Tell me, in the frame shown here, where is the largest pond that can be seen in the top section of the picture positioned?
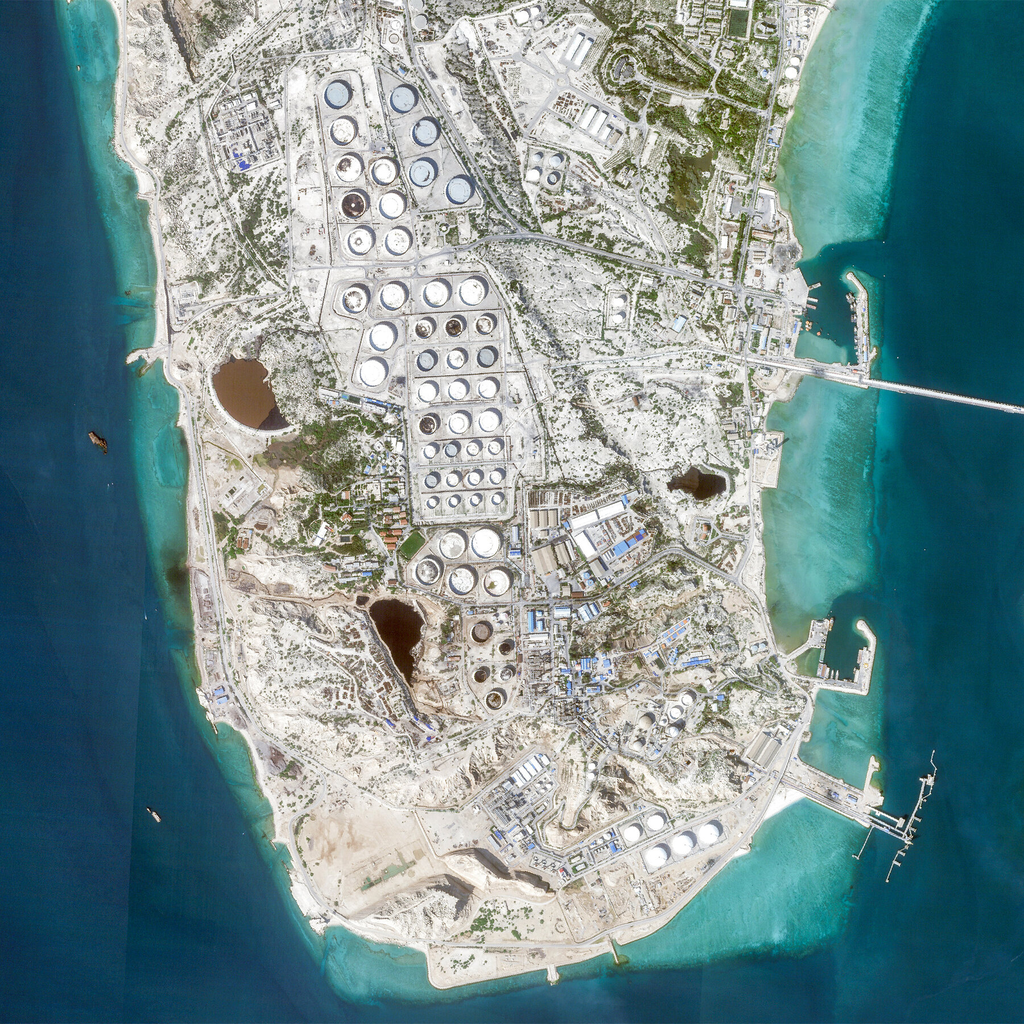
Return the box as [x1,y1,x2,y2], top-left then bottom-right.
[212,359,290,431]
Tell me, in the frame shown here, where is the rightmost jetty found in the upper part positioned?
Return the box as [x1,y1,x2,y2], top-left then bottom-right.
[862,377,1024,414]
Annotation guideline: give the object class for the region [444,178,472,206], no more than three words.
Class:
storage tank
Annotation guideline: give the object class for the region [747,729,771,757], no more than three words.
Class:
building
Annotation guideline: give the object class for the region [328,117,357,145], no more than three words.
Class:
storage tank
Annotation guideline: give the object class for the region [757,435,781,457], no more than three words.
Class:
building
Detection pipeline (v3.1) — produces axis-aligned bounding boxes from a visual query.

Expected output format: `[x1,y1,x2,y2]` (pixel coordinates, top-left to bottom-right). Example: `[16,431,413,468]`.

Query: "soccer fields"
[730,8,750,37]
[397,528,427,561]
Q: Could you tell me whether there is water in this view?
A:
Yes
